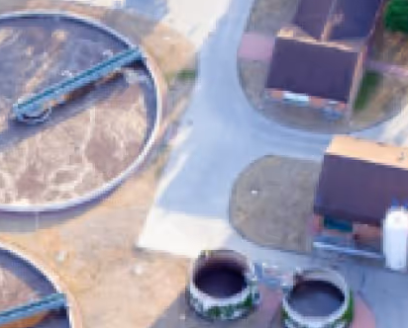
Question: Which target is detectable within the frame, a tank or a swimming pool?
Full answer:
The one in the frame is a tank.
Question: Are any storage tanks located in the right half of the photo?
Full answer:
Yes, a storage tank is visible in the right half of the photo.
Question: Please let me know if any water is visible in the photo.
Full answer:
Yes, there's water in this view.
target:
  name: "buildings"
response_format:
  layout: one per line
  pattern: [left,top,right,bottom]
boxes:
[309,135,408,253]
[267,0,382,122]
